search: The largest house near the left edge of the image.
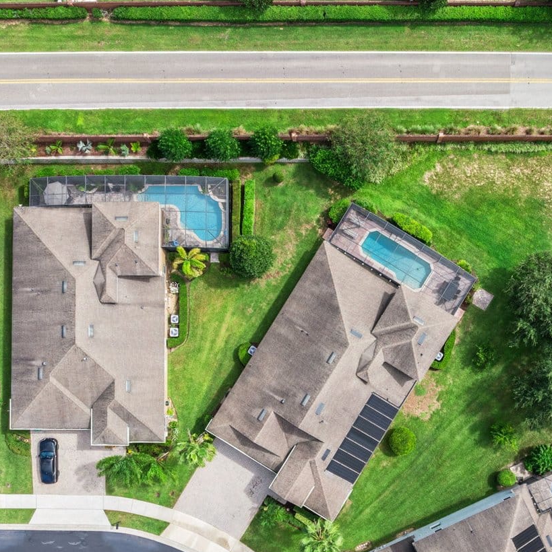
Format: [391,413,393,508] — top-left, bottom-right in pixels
[9,200,171,447]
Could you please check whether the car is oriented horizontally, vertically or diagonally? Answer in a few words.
vertically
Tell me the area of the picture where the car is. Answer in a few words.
bottom left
